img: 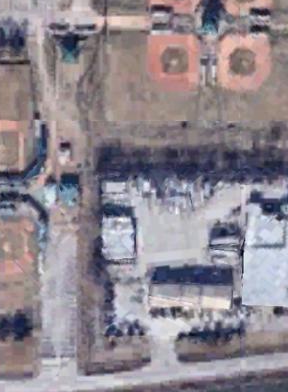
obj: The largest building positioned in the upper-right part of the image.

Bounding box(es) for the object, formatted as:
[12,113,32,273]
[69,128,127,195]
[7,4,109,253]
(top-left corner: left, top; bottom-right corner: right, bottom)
[198,5,222,31]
